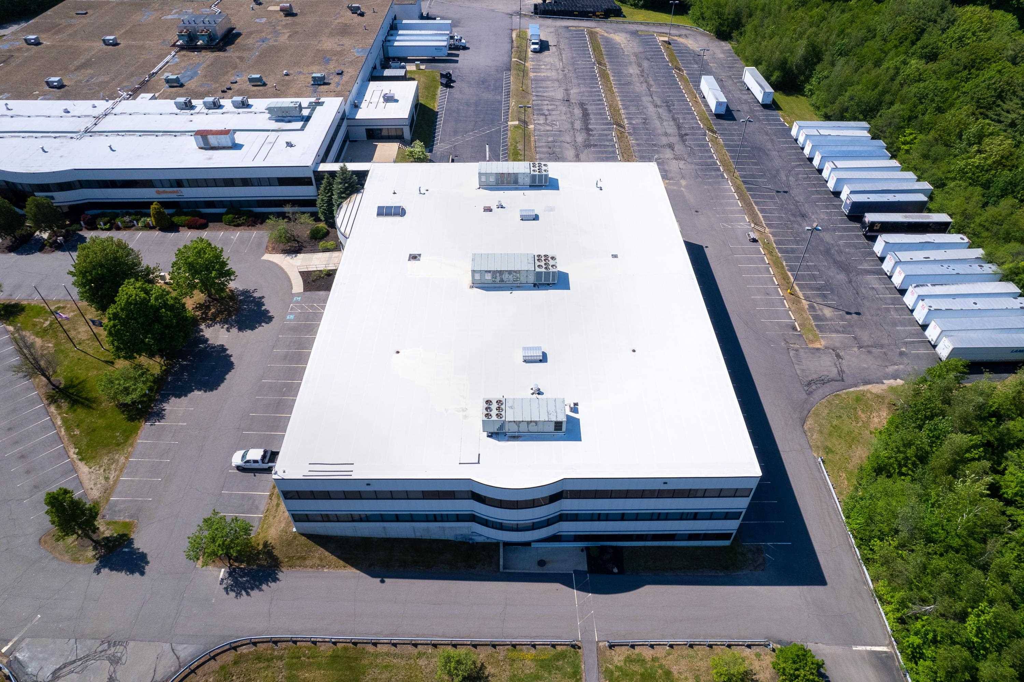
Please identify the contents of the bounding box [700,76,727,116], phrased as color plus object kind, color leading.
white trailer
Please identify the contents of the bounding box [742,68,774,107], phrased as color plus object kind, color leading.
white trailer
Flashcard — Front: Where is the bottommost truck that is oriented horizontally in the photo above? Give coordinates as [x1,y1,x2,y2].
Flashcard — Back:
[230,449,280,473]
